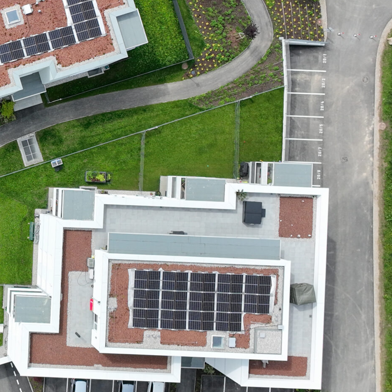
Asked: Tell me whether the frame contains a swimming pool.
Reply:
No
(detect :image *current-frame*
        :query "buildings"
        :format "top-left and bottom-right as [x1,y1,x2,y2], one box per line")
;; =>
[0,163,329,390]
[0,0,148,102]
